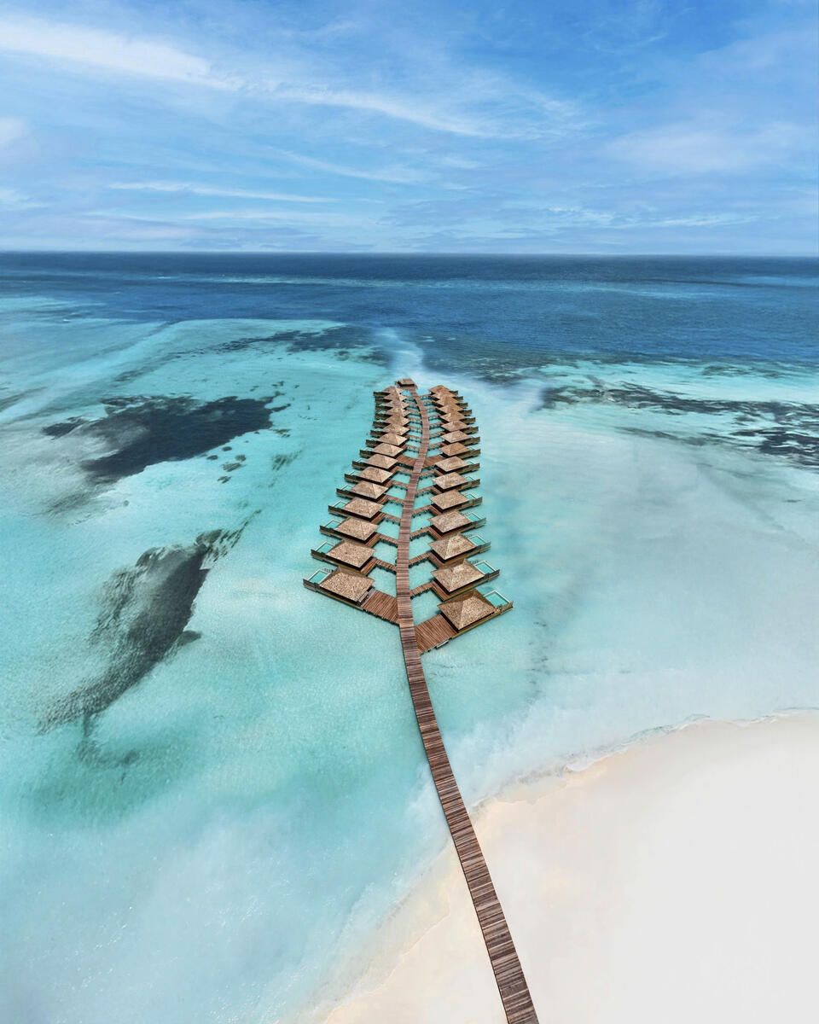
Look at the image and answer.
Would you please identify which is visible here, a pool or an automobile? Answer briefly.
pool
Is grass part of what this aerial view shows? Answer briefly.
No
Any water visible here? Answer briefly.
Yes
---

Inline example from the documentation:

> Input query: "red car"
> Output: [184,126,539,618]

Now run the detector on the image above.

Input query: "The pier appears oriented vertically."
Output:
[397,389,539,1024]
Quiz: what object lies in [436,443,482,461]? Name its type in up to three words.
house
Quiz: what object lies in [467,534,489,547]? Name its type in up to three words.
swimming pool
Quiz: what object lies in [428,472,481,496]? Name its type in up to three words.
house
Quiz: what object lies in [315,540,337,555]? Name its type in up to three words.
swimming pool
